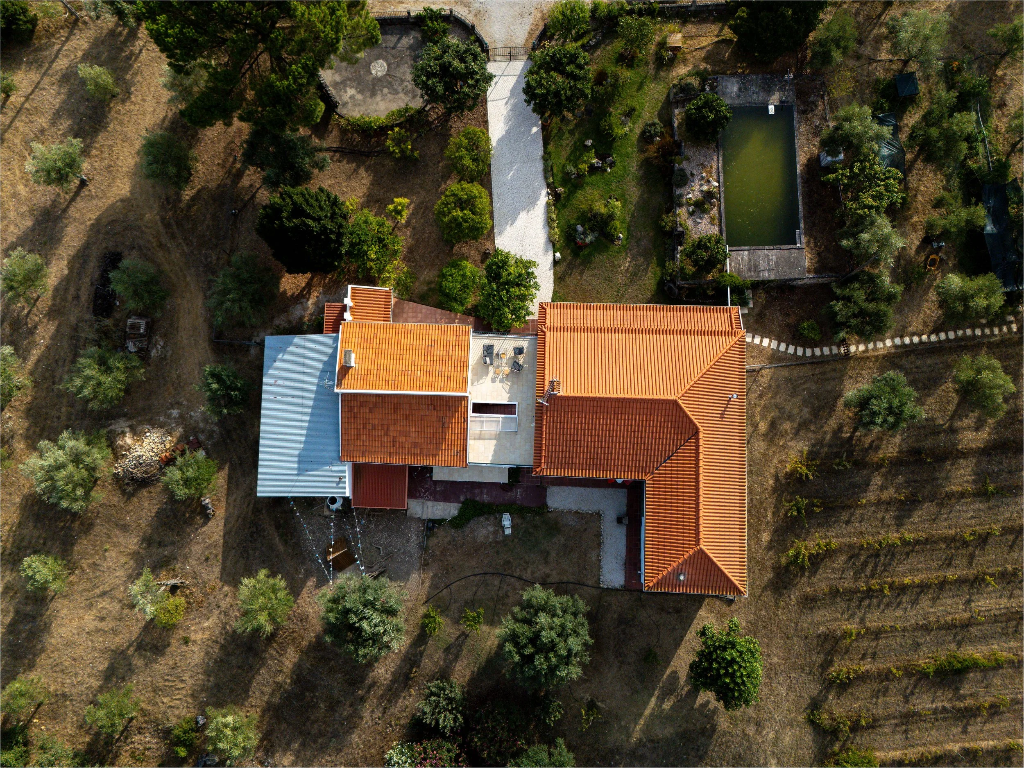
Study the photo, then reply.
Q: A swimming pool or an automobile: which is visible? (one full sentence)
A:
It is a swimming pool that can be seen here.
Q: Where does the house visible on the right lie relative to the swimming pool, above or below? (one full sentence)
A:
The house visible on the right is located below the swimming pool in this view.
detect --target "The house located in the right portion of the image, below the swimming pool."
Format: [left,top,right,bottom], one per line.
[533,301,750,603]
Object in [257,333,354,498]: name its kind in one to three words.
shed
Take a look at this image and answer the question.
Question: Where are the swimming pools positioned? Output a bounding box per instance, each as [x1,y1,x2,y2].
[715,76,806,283]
